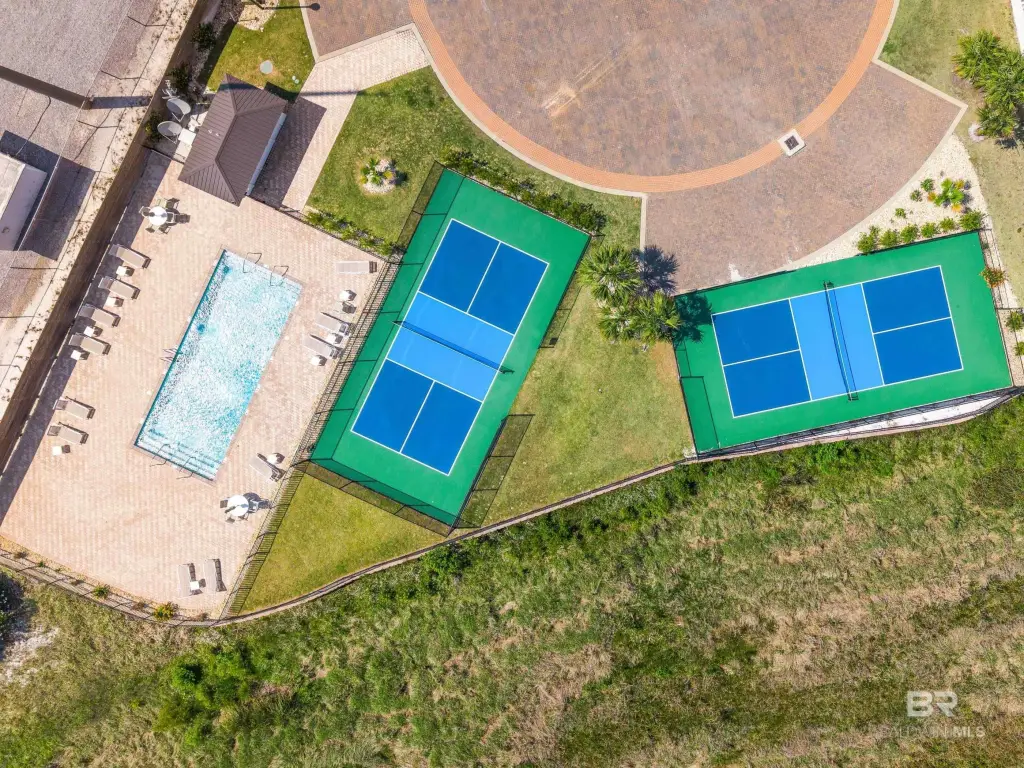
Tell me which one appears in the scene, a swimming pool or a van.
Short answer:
swimming pool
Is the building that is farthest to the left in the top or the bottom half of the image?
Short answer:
top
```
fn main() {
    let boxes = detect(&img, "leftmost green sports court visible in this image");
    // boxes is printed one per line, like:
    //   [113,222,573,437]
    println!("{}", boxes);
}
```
[311,168,591,528]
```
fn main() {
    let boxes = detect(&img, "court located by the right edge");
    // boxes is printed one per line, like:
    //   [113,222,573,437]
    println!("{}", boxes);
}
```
[667,231,1012,455]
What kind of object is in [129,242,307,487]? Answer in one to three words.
swimming pool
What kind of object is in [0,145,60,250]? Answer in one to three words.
building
